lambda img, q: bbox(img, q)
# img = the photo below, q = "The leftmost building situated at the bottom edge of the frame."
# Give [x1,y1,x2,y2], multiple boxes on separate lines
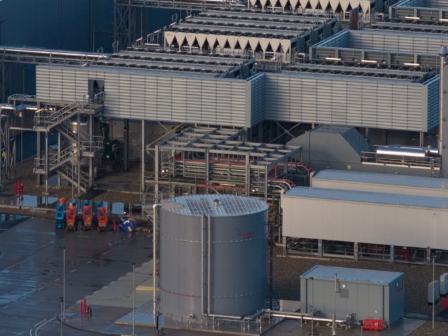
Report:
[299,260,419,322]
